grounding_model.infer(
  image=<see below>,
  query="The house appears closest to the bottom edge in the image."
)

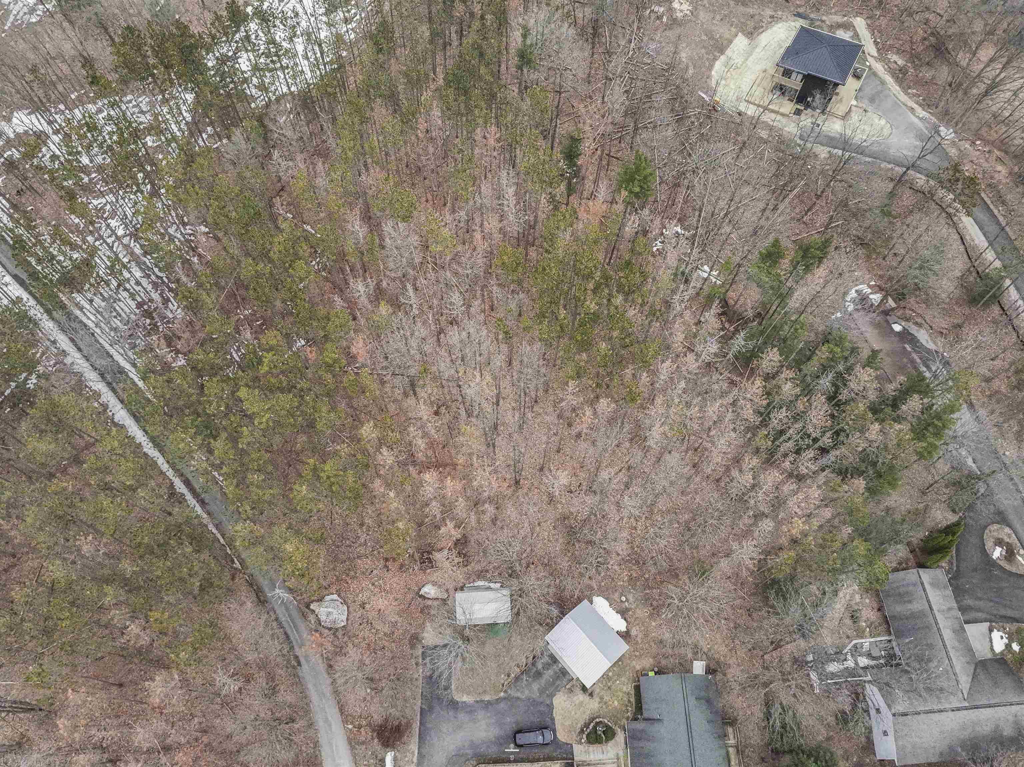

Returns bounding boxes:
[625,674,727,767]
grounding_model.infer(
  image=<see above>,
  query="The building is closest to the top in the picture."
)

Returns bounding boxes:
[744,25,868,119]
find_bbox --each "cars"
[512,726,554,748]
